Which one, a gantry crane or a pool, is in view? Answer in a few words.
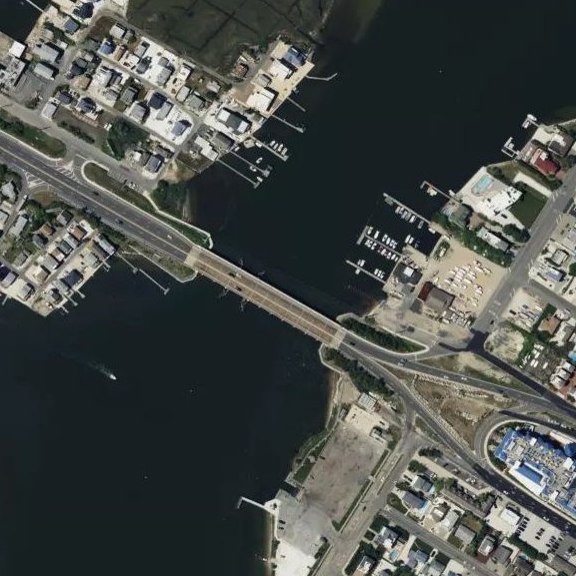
pool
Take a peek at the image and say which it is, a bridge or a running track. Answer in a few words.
bridge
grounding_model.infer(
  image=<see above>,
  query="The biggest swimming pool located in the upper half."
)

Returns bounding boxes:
[475,171,493,192]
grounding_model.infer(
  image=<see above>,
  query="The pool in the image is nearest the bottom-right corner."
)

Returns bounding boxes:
[517,465,542,486]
